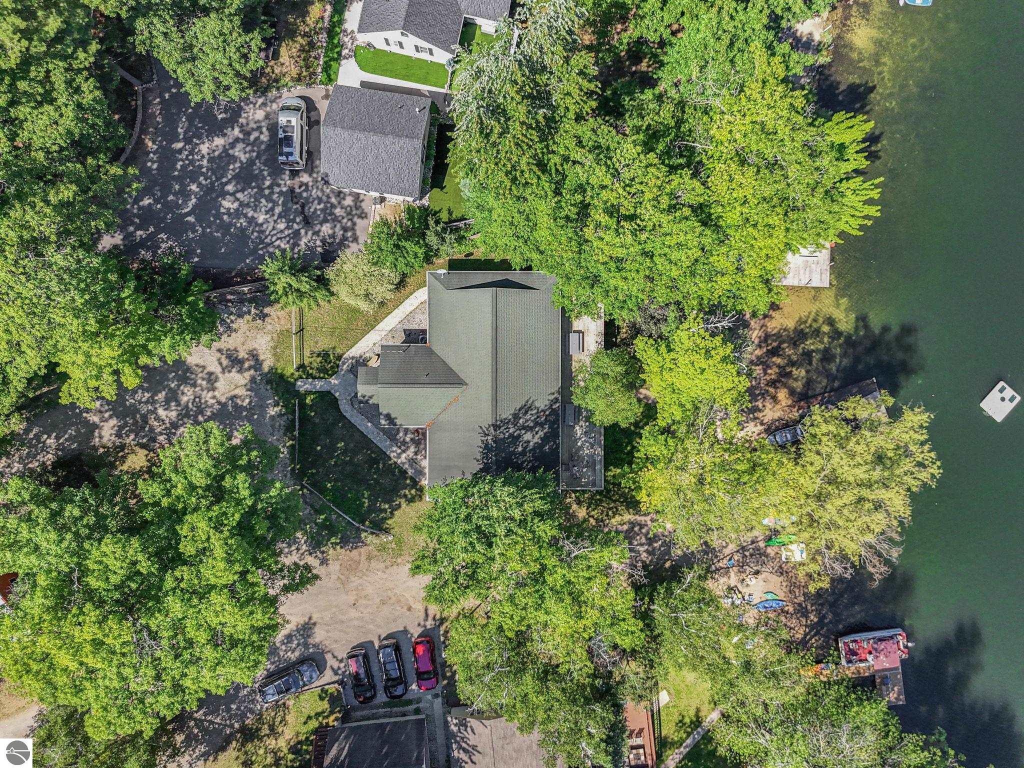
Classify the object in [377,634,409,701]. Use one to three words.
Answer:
car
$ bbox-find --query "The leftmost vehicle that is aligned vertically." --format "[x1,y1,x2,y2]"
[278,98,311,173]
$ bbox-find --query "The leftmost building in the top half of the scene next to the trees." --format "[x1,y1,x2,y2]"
[319,83,434,206]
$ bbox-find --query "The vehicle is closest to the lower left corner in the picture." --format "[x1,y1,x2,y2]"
[254,654,327,706]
